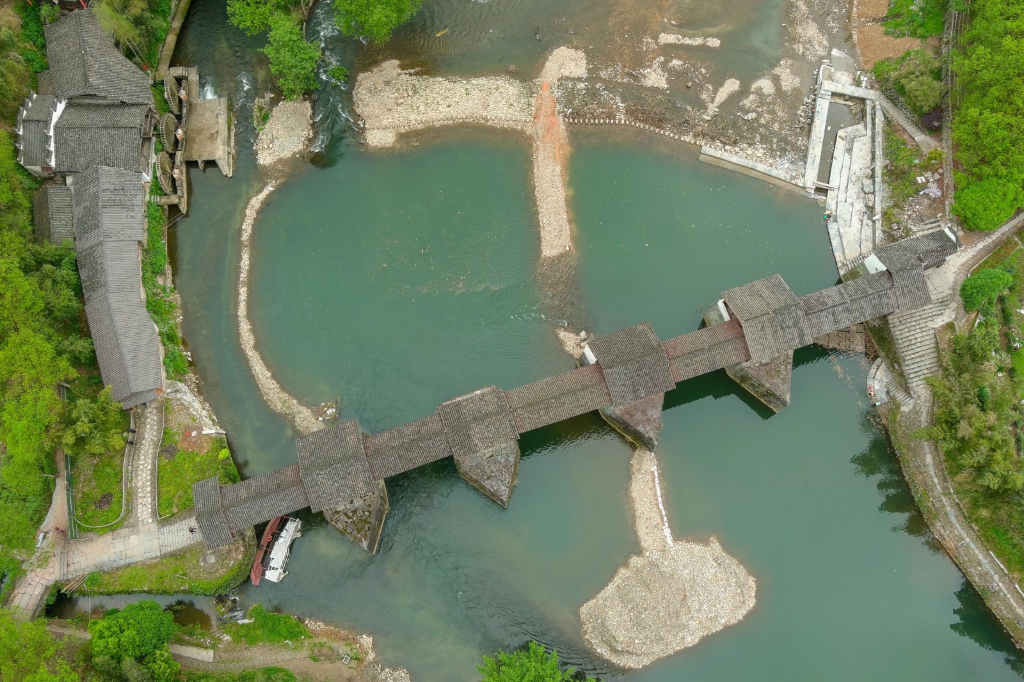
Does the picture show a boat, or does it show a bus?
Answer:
boat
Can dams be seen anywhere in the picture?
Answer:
Yes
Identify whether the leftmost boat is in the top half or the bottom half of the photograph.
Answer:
bottom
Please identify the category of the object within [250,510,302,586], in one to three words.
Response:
boat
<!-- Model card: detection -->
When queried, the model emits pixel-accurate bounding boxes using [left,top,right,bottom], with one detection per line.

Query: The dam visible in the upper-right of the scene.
[698,146,825,208]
